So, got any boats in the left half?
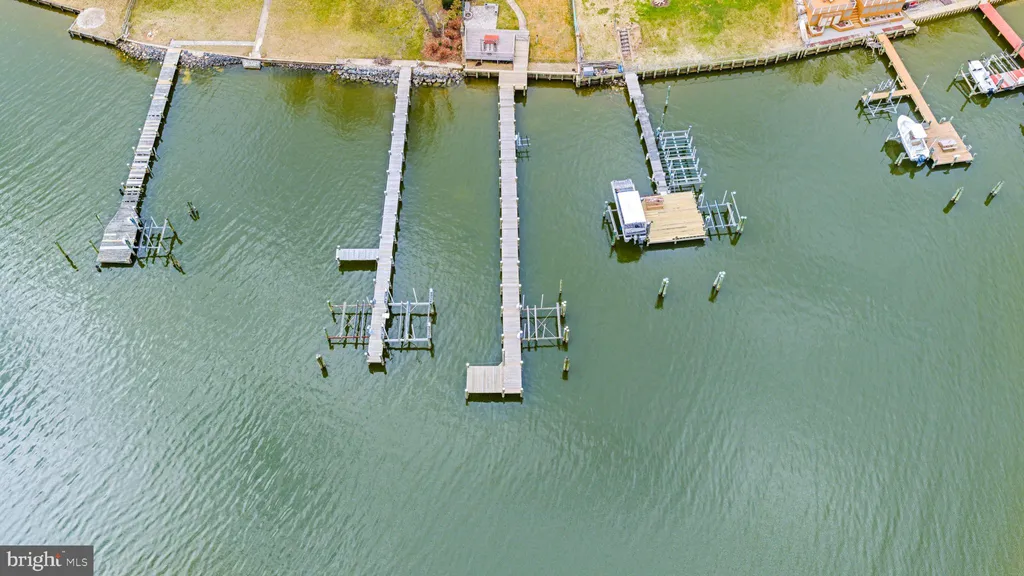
No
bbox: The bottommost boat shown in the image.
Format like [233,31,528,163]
[610,180,647,250]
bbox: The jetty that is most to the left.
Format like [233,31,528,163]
[97,50,182,268]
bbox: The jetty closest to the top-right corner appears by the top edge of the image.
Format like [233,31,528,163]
[978,2,1024,94]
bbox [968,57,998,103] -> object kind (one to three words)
boat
